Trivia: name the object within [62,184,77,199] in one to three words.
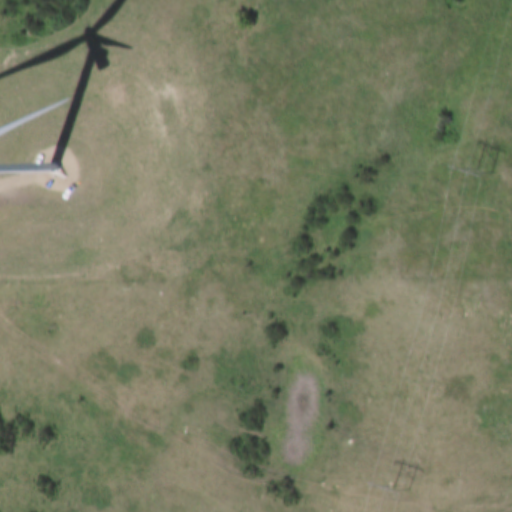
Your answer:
vehicle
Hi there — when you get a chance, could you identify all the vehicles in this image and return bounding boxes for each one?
[46,179,55,188]
[62,184,77,199]
[34,154,44,164]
